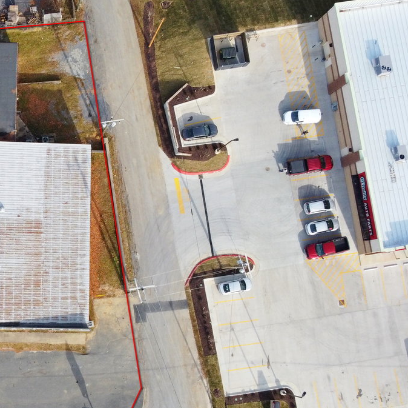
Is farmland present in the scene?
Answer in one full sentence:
No, farmland can't be seen anywhere here.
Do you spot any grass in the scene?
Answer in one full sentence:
Yes, there is grass in the image.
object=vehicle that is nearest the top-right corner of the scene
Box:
[281,108,323,127]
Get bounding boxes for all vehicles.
[301,238,352,259]
[216,277,254,296]
[179,123,217,142]
[281,108,323,127]
[303,217,341,236]
[300,197,336,216]
[287,156,333,176]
